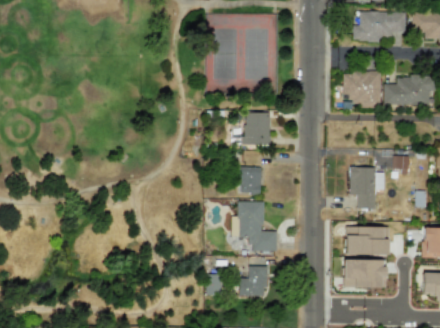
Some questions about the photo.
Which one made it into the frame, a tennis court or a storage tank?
tennis court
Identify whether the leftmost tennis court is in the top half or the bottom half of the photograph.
top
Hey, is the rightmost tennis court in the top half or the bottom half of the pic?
top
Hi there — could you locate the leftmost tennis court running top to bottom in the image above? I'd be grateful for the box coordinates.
[206,14,240,95]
